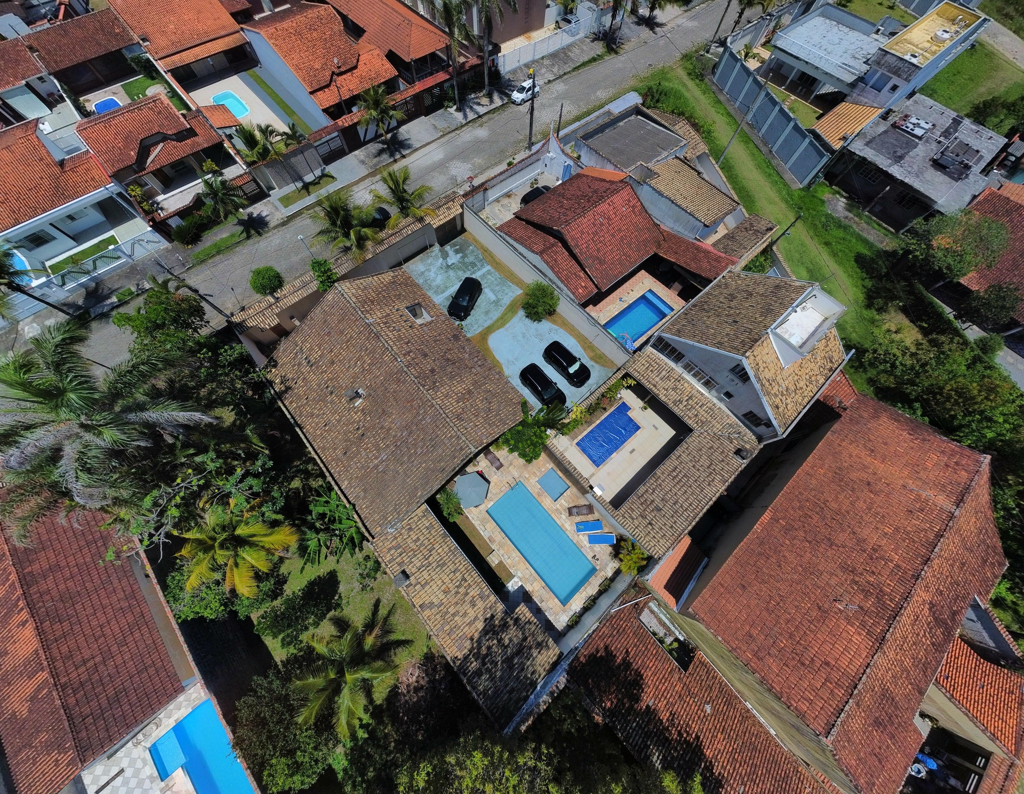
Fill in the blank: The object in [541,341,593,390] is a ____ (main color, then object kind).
black car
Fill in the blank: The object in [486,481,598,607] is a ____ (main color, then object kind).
blue swimming pool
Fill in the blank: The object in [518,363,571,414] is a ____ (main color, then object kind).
black car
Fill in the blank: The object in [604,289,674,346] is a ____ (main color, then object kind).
blue swimming pool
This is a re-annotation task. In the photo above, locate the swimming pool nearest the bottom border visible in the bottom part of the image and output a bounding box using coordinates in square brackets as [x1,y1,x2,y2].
[148,699,254,794]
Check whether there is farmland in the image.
No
